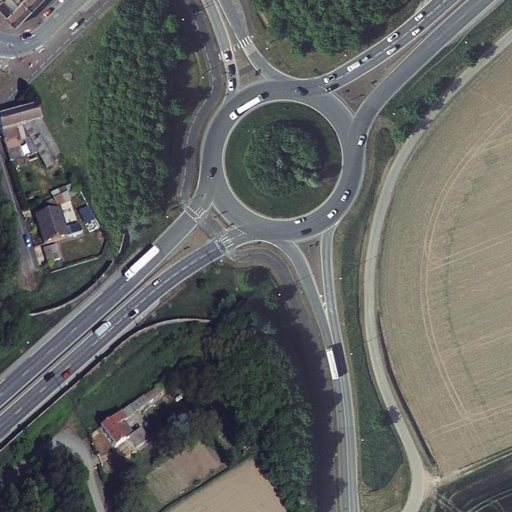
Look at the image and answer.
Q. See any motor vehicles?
Yes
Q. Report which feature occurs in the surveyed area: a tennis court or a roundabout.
roundabout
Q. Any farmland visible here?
Yes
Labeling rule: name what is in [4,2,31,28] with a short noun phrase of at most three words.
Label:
house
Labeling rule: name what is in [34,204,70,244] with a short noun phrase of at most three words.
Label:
house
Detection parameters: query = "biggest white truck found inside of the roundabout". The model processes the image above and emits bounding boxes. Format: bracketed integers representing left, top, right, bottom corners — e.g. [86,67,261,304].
[232,94,264,118]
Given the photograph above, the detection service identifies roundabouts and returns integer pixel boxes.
[201,78,364,242]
